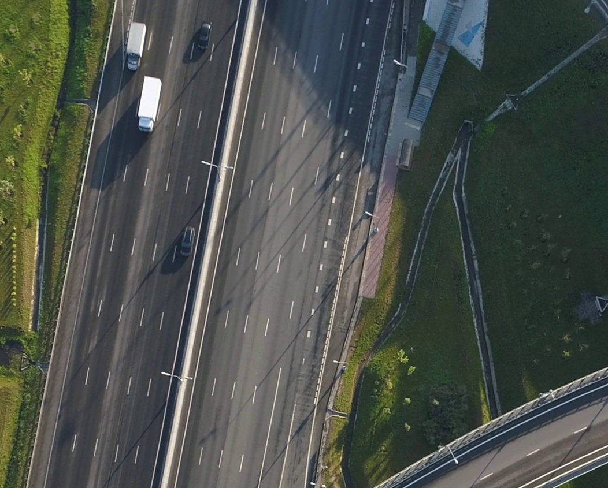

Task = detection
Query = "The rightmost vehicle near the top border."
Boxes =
[196,21,210,48]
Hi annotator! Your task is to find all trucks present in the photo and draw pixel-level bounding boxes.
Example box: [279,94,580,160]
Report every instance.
[134,72,160,131]
[122,17,144,70]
